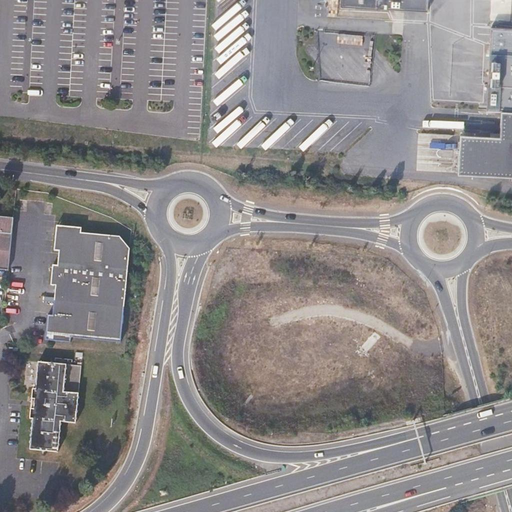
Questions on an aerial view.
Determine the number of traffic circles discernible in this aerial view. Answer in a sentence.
My tally gives 2 traffic circles in this view.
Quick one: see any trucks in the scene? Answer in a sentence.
Yes, this view includes a truck.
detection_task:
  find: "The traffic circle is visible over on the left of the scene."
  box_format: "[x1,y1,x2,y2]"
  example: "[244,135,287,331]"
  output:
[128,170,256,256]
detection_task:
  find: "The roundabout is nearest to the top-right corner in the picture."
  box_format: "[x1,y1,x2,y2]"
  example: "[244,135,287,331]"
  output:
[384,192,497,284]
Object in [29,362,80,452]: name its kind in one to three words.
building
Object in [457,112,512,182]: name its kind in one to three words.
building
